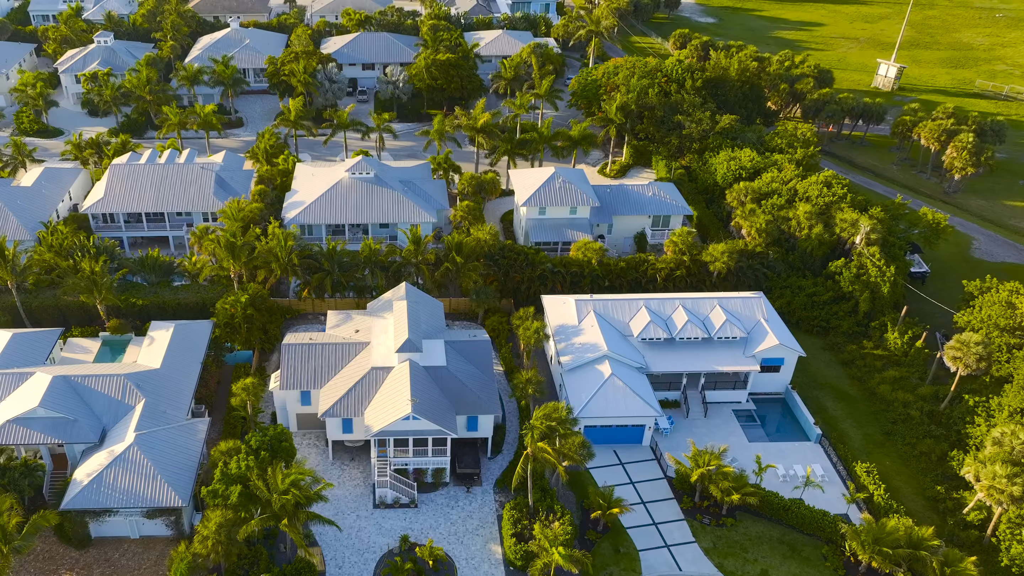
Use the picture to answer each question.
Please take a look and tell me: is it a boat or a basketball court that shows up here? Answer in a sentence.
Looking from above, you can make out a boat.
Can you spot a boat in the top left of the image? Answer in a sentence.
No, there's no boat to be seen in the top left of the image.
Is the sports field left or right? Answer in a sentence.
The sports field appears in the right half of the scene.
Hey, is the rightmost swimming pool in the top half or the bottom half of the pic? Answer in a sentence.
Seen from above, the rightmost swimming pool lies in the bottom half of the view.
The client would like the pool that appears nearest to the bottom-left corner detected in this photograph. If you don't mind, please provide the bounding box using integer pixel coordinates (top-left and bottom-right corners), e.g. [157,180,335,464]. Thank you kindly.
[93,339,131,364]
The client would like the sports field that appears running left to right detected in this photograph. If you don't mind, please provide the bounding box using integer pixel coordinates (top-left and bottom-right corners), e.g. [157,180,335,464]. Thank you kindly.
[618,0,1024,154]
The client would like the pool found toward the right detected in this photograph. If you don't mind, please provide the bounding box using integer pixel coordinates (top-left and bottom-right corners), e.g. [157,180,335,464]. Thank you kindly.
[732,383,821,444]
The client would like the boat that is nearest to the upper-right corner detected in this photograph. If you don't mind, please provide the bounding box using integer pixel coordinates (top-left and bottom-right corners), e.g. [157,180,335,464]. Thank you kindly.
[893,238,932,282]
